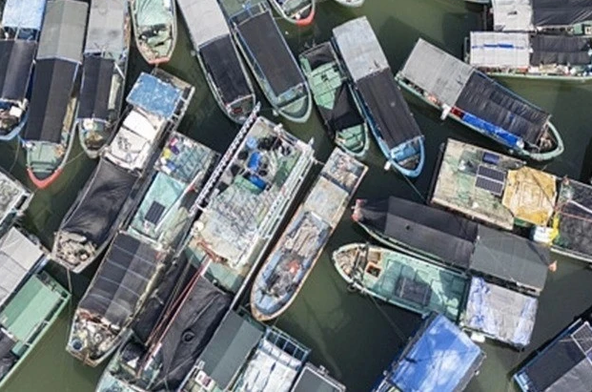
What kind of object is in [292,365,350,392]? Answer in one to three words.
boat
